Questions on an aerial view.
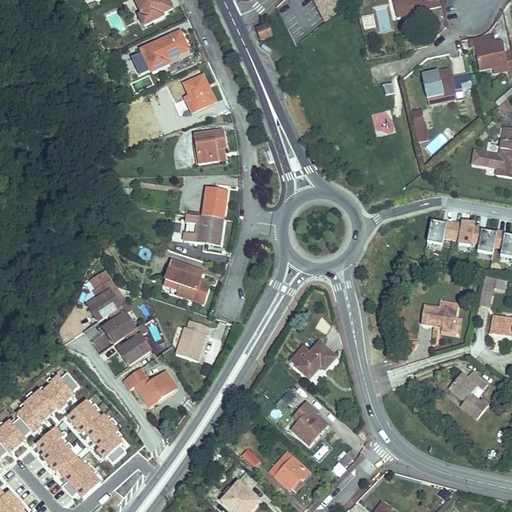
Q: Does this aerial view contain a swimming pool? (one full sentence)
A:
Yes, the photo shows a swimming pool.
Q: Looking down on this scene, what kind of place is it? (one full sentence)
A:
What you see here is a residential area.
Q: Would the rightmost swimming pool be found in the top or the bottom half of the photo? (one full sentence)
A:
The top half of the photo is where the rightmost swimming pool is.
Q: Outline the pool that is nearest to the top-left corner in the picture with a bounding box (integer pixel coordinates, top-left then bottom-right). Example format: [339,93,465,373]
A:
[104,8,128,34]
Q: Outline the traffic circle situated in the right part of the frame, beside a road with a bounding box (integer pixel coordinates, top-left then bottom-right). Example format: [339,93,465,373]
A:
[275,186,366,276]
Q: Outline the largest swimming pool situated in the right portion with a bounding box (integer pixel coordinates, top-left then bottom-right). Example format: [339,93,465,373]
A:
[374,6,392,34]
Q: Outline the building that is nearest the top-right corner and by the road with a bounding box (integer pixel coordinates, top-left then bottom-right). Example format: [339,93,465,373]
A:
[469,34,512,80]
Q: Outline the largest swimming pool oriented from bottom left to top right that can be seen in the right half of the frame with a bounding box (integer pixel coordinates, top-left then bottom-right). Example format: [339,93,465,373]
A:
[424,133,448,156]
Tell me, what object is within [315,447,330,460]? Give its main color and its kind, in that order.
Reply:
white vehicle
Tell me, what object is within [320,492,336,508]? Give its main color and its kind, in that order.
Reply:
white vehicle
